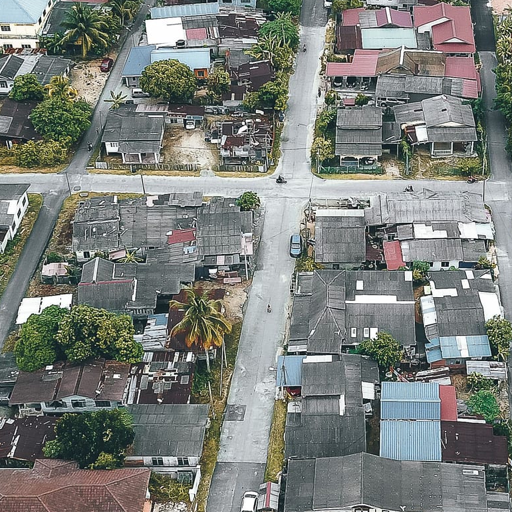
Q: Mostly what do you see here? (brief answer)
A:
buildings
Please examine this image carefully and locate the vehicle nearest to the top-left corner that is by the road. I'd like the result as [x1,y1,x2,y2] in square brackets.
[98,58,116,72]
